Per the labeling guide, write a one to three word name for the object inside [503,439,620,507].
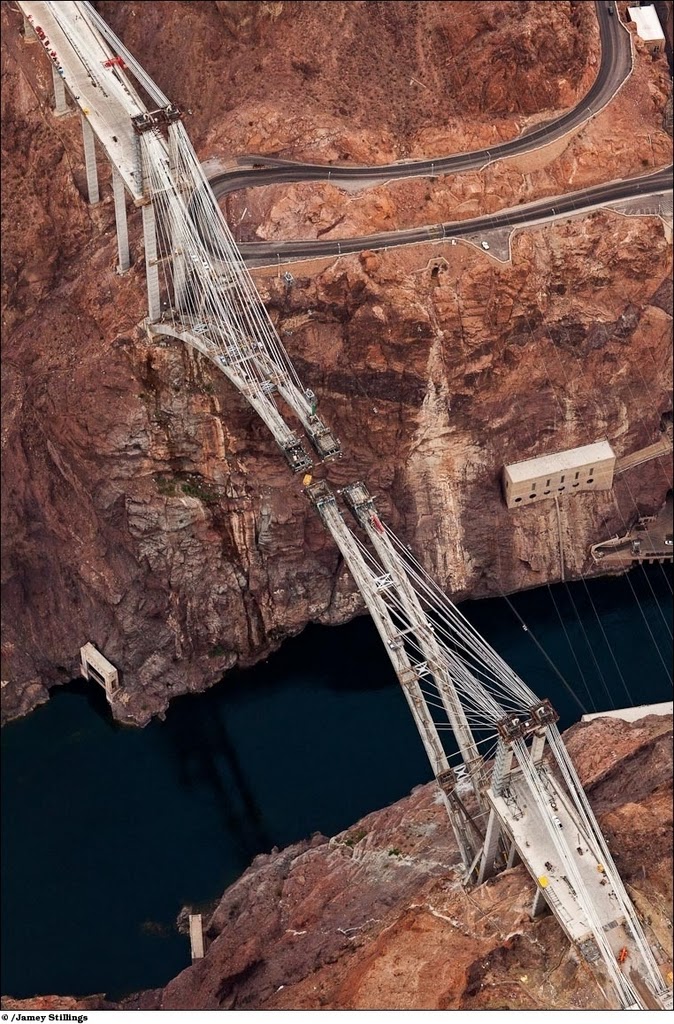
building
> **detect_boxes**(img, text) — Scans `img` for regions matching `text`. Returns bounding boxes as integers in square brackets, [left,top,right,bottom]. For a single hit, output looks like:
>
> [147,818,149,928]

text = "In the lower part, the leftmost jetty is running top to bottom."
[188,917,203,963]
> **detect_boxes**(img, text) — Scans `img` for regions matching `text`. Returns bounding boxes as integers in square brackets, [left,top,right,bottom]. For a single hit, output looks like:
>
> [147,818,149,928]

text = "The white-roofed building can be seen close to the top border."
[625,4,666,56]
